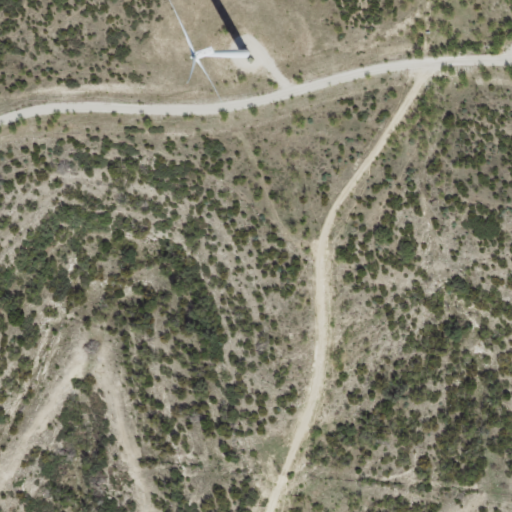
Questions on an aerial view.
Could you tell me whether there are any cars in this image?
No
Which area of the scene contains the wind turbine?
top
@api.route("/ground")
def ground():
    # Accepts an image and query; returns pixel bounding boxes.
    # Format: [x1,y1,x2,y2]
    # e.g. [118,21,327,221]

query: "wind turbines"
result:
[170,0,252,98]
